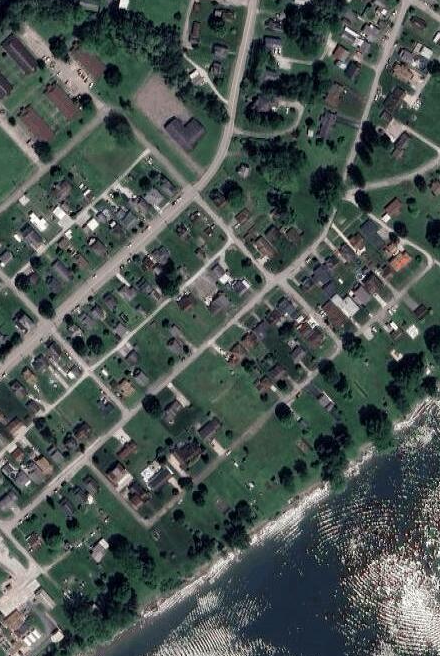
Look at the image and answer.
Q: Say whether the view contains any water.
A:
Yes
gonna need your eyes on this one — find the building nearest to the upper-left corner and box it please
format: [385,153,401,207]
[3,32,37,73]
